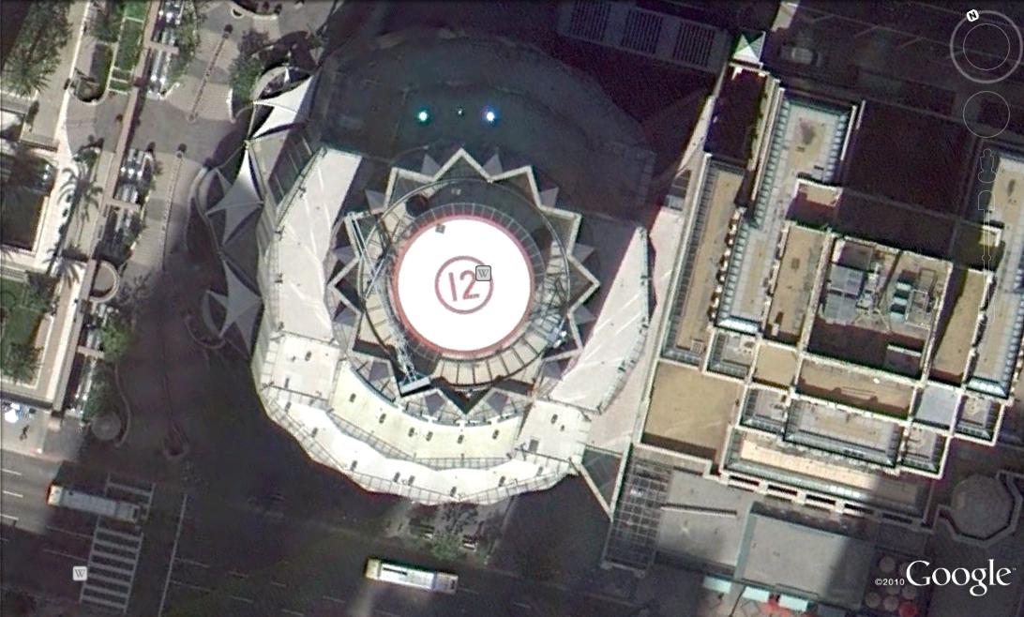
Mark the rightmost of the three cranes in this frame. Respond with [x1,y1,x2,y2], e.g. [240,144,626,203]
[532,251,571,343]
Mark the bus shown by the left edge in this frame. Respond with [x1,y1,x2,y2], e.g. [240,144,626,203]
[48,481,146,521]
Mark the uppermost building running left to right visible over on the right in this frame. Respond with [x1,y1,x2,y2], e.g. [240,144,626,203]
[558,0,728,73]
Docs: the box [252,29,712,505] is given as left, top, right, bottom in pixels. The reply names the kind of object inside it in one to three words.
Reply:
building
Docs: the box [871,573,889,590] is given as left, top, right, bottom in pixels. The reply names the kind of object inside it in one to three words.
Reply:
umbrella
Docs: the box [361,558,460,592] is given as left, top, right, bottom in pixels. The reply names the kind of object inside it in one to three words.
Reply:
bus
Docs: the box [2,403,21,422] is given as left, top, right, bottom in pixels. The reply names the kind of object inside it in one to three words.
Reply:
umbrella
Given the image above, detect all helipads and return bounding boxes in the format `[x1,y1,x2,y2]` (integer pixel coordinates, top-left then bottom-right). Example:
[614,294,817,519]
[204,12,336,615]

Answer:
[378,197,553,372]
